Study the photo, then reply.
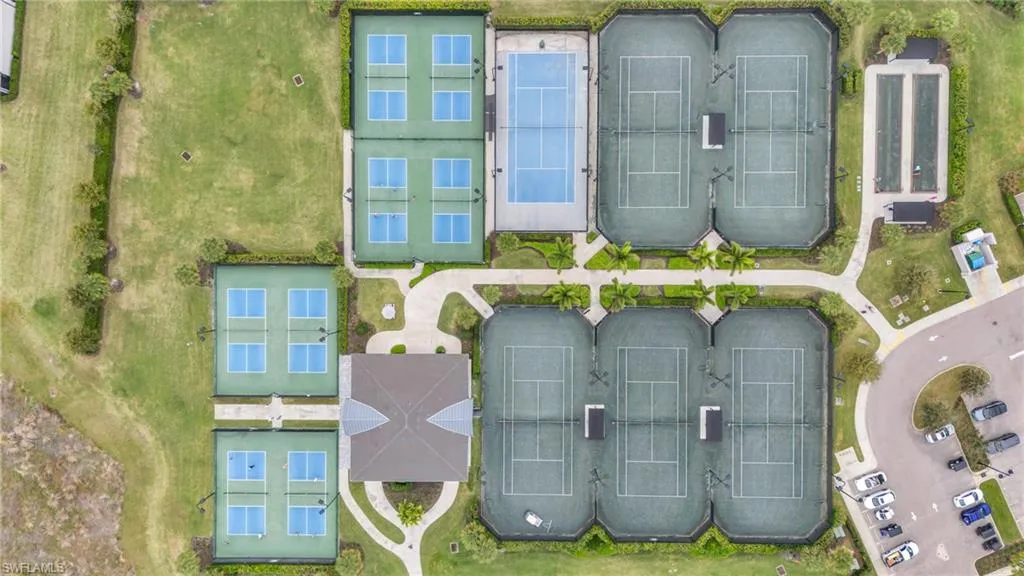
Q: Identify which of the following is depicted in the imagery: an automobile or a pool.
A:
automobile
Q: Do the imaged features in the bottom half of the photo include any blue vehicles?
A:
Yes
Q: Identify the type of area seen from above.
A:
sports ground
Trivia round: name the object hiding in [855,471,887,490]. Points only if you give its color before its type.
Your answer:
white car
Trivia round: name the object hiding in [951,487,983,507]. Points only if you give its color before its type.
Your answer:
white car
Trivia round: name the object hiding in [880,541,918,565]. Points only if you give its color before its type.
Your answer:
white truck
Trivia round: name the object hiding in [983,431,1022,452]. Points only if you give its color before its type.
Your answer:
gray truck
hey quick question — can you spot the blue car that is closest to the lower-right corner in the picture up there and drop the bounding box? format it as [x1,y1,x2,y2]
[958,503,991,524]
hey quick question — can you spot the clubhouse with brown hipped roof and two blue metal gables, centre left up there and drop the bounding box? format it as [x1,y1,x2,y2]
[340,353,474,481]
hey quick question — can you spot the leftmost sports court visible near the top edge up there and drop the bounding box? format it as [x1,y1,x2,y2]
[354,15,419,138]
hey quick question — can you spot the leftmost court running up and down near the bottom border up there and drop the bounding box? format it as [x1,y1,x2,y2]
[216,432,277,558]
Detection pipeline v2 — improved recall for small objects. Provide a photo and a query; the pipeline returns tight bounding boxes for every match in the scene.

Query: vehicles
[863,489,896,509]
[874,506,895,521]
[878,522,902,538]
[951,487,983,507]
[855,471,887,490]
[923,425,954,442]
[983,431,1022,452]
[974,522,996,537]
[971,401,1008,420]
[525,510,542,528]
[945,456,968,470]
[981,536,1003,551]
[880,541,918,565]
[958,503,991,524]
